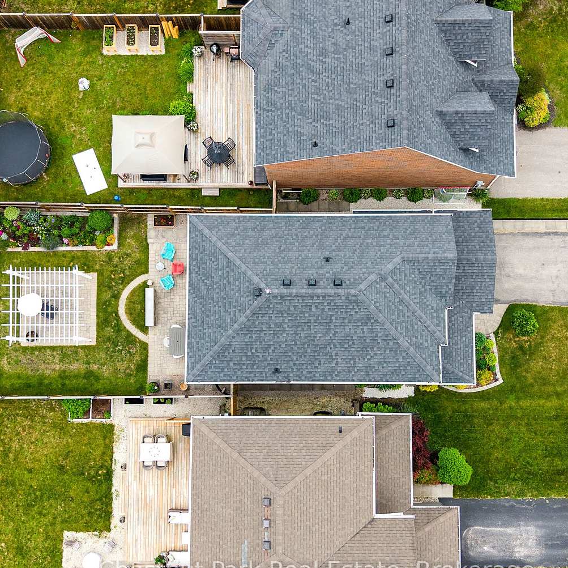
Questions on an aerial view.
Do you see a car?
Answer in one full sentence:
No, there is no car in the image.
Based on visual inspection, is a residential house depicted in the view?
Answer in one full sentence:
Yes, there's a residential house here.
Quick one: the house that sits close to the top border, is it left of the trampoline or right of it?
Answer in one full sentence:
Relative to the trampoline, the house that sits close to the top border lies to the right.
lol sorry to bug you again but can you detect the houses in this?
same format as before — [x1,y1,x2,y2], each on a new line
[187,411,463,568]
[239,0,518,189]
[186,206,503,385]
